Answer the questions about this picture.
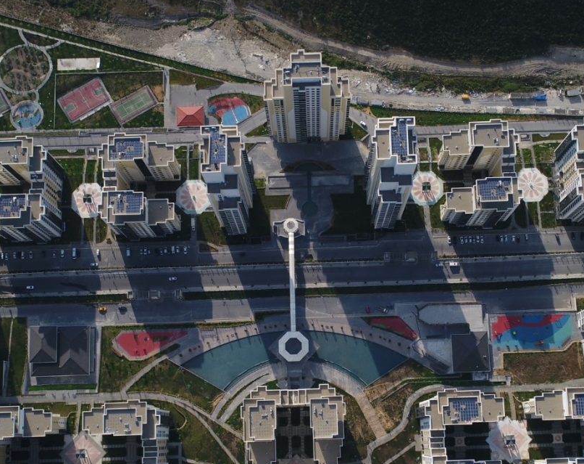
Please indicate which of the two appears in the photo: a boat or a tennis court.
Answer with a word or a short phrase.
tennis court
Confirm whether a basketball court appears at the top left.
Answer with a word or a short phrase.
Yes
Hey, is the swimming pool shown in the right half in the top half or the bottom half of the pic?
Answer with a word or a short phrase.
bottom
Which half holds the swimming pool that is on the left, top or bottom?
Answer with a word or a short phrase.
bottom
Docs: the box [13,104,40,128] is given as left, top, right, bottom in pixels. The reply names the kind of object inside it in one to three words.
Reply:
playground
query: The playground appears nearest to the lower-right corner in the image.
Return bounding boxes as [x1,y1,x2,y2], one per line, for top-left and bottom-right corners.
[491,312,573,349]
